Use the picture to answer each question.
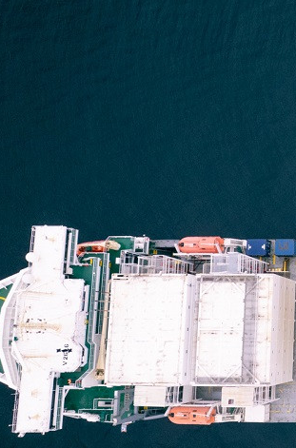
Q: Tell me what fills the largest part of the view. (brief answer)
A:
water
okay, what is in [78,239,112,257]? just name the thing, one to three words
boat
